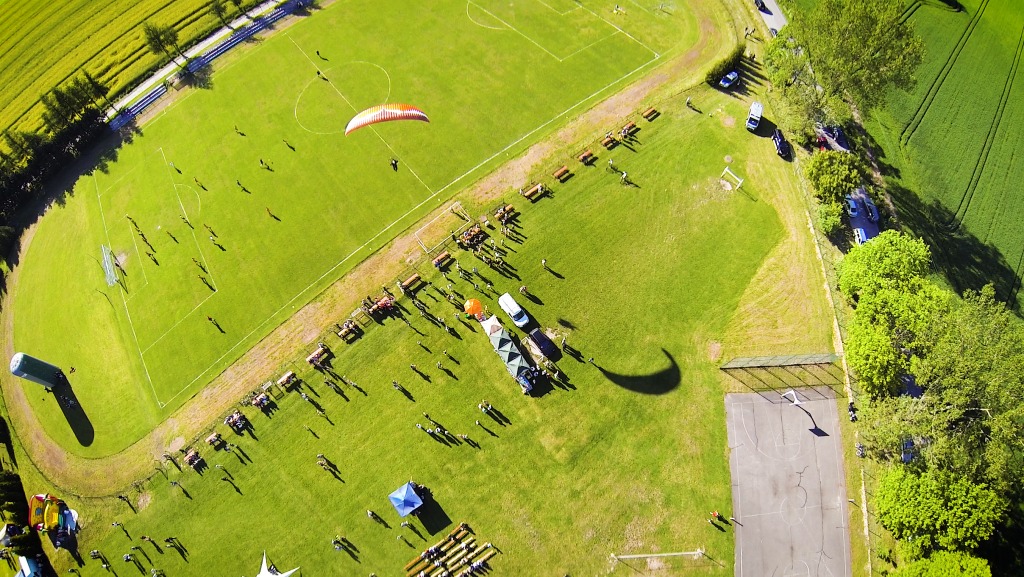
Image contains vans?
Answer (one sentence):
Yes, there's a van here.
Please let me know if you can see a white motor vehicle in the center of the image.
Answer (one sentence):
Yes, the scene does show a white motor vehicle in the center of the image.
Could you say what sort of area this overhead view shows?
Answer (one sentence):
This image shows a sports ground.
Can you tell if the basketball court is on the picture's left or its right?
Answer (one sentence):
You can find the basketball court on the right side of the picture.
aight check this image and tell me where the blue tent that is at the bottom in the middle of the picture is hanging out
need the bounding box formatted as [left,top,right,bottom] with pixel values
[388,482,425,515]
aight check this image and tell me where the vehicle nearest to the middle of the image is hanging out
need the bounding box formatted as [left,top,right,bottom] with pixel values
[498,290,531,329]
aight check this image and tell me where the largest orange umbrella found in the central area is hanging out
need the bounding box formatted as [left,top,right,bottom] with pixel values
[465,300,481,315]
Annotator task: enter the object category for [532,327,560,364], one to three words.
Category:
car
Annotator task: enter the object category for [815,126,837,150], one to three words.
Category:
car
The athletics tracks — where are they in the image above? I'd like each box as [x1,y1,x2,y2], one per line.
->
[0,0,736,496]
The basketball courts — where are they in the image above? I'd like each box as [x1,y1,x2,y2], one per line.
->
[725,387,852,577]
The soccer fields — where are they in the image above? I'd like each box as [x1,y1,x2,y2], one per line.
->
[14,0,696,458]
